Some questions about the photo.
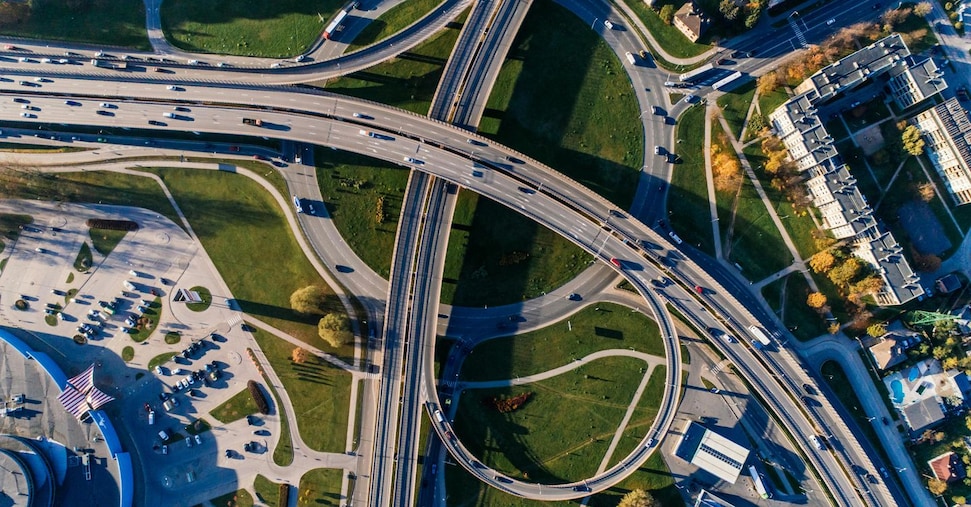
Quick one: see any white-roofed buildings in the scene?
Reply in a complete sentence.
Yes, looking at the shot, I can spot a white-roofed building.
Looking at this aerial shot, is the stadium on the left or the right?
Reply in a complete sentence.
The stadium sits on the left side.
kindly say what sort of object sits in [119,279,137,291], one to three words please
vehicle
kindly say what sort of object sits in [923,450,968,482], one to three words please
house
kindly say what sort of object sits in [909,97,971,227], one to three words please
building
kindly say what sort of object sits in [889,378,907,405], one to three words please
swimming pool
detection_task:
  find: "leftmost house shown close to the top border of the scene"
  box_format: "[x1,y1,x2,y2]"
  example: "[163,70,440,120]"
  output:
[672,0,712,40]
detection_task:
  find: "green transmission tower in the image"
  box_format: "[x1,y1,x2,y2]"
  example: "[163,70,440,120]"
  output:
[914,311,965,325]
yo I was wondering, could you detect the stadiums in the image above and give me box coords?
[0,319,139,507]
